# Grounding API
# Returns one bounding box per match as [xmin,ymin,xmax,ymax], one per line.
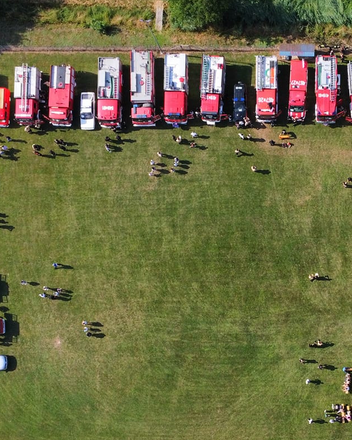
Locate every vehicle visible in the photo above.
[12,62,47,125]
[79,92,96,130]
[198,51,229,127]
[97,57,125,128]
[163,53,195,125]
[343,60,352,126]
[0,88,12,127]
[254,52,284,121]
[43,65,77,126]
[287,59,307,121]
[229,85,248,124]
[129,49,163,126]
[313,55,343,124]
[0,355,9,370]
